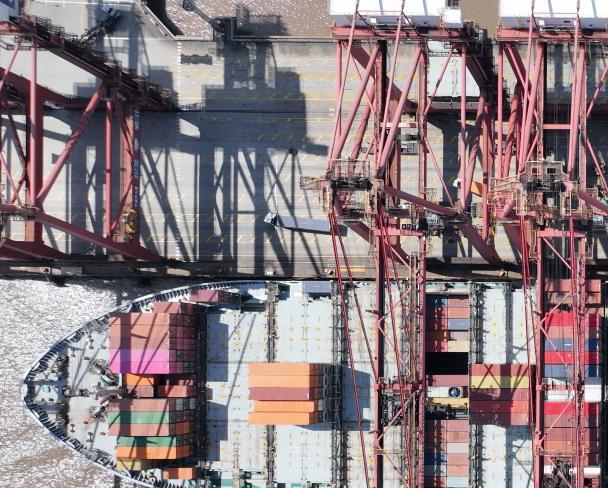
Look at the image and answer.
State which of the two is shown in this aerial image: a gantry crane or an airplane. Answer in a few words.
gantry crane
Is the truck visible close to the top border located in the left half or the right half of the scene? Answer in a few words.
left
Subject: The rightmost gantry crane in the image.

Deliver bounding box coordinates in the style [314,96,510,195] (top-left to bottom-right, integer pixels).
[478,0,608,488]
